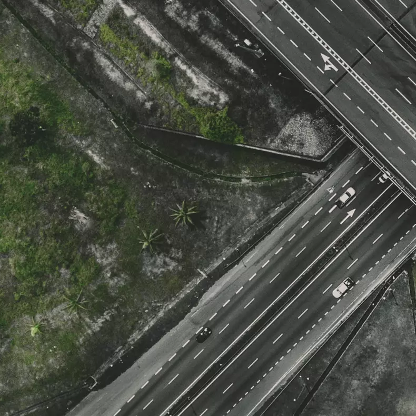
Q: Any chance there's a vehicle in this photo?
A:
Yes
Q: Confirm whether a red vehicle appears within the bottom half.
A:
No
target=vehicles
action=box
[377,170,390,185]
[334,187,356,210]
[195,326,213,343]
[332,275,356,298]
